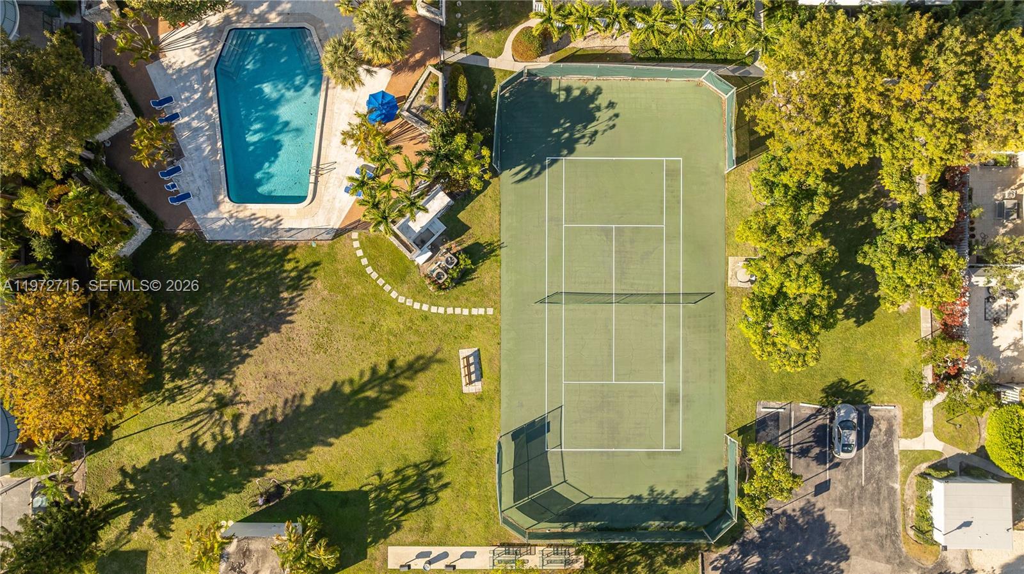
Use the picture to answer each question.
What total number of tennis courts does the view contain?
one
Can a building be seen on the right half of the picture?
Yes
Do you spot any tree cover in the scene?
Yes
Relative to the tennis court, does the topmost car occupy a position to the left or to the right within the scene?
right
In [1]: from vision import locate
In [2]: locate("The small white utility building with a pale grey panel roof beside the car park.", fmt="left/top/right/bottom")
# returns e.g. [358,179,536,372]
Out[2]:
[930,477,1015,551]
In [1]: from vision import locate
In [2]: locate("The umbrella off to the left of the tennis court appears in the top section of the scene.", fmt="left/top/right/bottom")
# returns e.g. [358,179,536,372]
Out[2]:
[367,92,399,122]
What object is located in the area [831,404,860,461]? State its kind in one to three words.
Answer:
car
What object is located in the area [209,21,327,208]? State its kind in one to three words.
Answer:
swimming pool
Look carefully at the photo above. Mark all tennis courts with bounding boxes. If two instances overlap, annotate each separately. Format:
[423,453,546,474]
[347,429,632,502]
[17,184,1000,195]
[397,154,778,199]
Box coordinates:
[500,78,726,530]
